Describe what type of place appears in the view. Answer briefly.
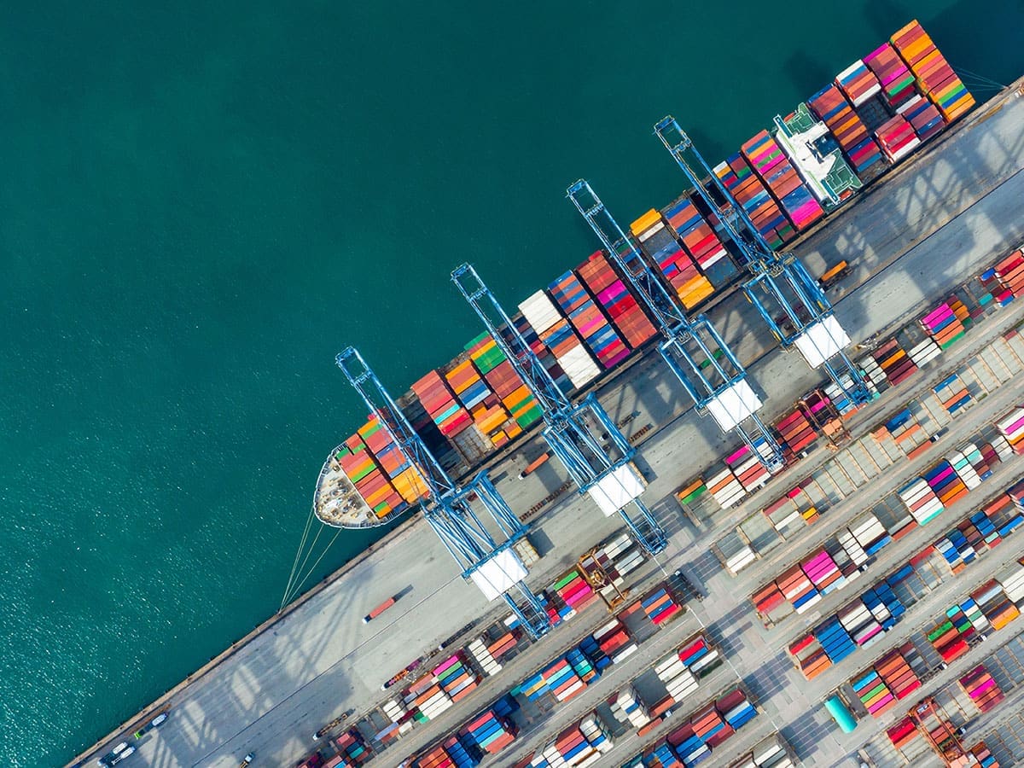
port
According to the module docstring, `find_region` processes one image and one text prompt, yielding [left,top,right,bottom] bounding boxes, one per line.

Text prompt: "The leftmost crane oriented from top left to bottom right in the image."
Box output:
[331,343,556,641]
